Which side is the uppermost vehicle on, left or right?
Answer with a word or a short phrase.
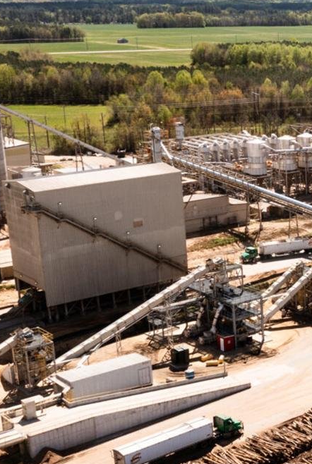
right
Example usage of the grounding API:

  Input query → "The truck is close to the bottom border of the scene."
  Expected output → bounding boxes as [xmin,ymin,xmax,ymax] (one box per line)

[115,421,244,464]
